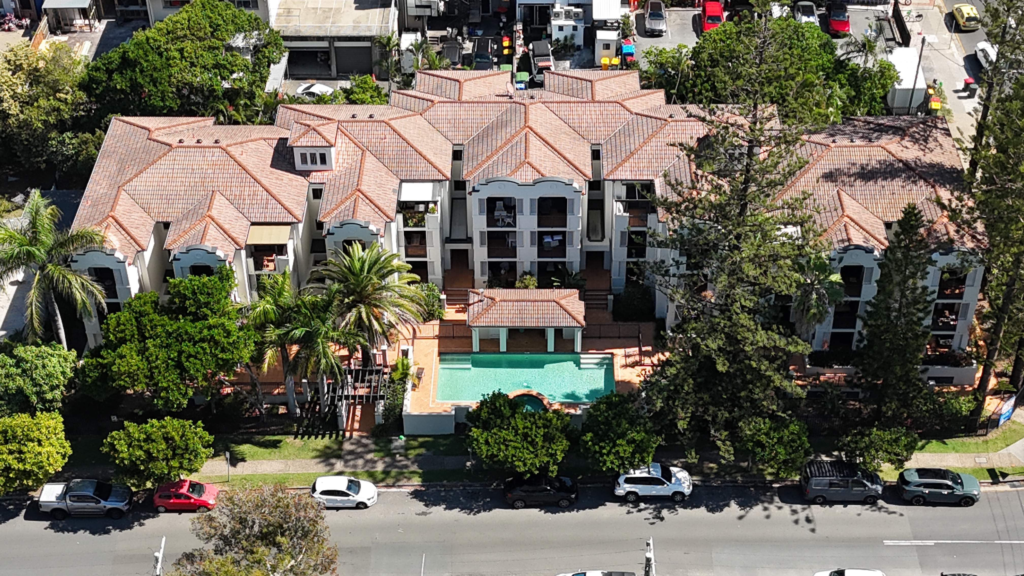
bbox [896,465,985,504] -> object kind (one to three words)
car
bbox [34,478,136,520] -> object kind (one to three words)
truck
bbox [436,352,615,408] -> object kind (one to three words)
swimming pool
